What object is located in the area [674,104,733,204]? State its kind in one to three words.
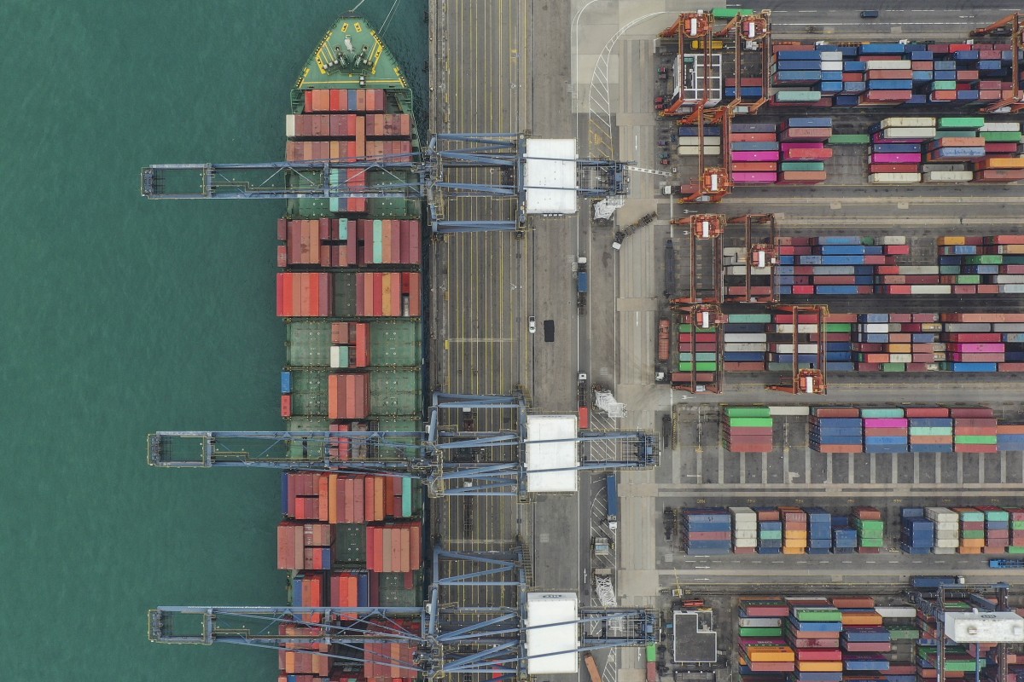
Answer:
container crane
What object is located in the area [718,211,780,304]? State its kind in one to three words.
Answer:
container crane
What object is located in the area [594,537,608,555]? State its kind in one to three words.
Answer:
vehicle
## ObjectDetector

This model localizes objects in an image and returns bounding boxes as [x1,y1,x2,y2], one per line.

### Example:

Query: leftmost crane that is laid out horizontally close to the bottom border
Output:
[146,533,660,679]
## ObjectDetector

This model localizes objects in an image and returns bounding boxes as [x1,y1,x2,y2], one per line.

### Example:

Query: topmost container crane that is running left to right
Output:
[139,131,629,252]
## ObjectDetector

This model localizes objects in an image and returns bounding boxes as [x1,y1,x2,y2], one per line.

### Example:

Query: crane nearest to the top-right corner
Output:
[969,8,1024,113]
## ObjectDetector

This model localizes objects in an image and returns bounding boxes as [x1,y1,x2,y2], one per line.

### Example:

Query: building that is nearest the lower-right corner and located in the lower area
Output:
[671,608,717,665]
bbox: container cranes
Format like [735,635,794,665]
[969,8,1024,113]
[146,385,660,498]
[710,8,772,113]
[139,131,629,252]
[718,211,780,304]
[907,584,1024,682]
[762,303,827,398]
[146,533,660,679]
[674,104,733,204]
[655,6,713,115]
[666,211,724,304]
[666,302,724,392]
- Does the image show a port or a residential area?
port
